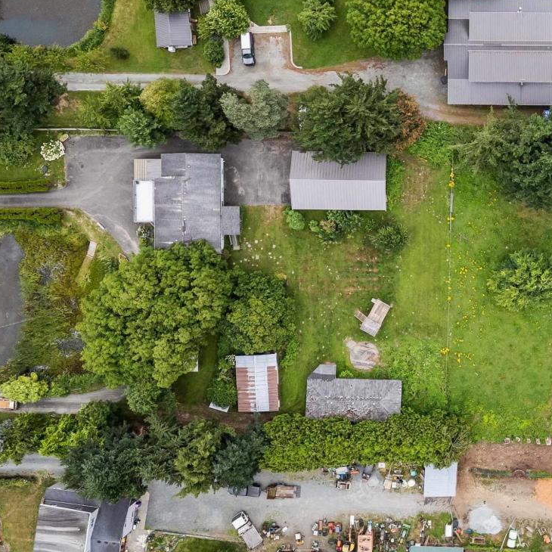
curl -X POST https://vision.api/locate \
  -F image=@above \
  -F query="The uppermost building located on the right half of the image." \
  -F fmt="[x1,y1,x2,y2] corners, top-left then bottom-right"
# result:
[444,0,552,104]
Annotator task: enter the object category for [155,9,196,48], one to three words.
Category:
shed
